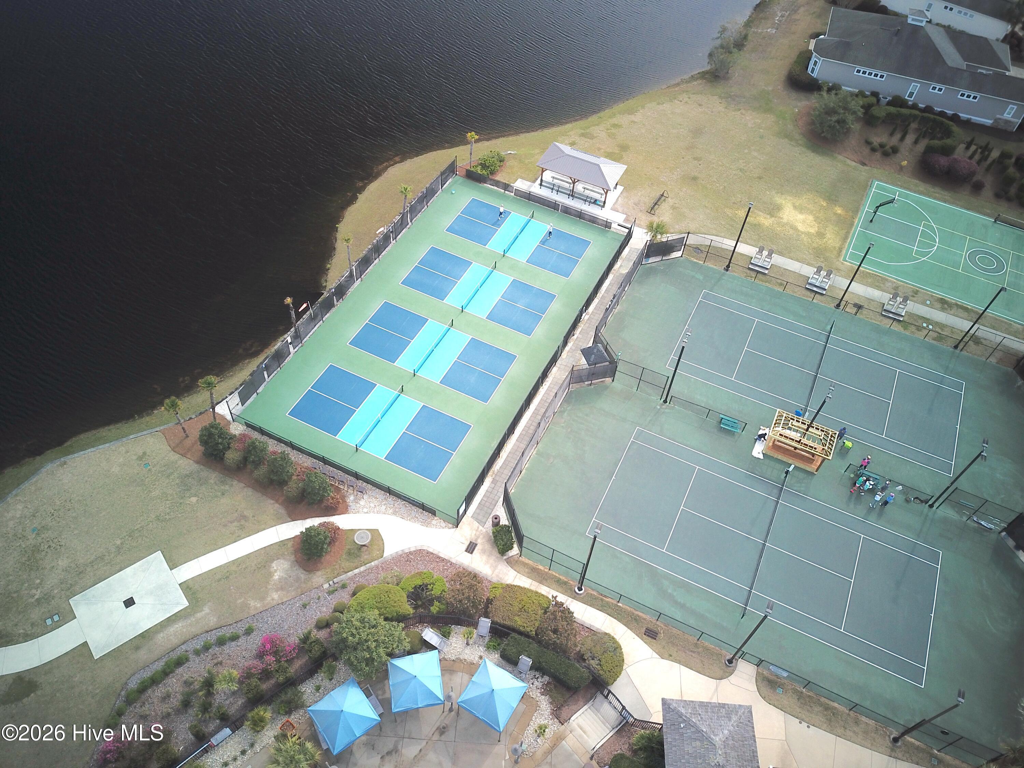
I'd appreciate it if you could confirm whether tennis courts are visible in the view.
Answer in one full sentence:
Yes, the image includes a tennis court.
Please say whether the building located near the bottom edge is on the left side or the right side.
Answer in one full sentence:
The building located near the bottom edge sits on the right side.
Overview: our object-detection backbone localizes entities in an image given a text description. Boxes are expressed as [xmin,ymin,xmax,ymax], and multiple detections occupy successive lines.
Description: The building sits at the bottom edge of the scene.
[660,696,761,768]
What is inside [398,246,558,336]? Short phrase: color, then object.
blue sports court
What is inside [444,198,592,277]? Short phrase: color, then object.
blue sports court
